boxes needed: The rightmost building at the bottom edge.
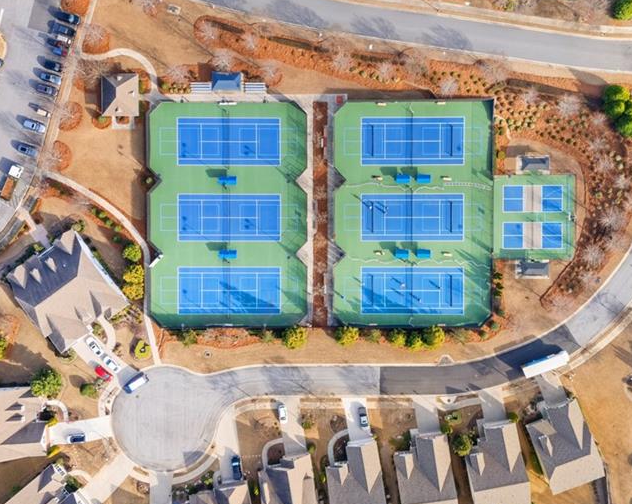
[524,398,594,495]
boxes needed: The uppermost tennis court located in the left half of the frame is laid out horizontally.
[149,102,306,179]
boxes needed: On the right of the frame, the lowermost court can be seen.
[334,255,493,326]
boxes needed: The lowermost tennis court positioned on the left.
[149,255,306,327]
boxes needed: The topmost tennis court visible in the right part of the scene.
[334,99,493,179]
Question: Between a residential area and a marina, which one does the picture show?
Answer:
residential area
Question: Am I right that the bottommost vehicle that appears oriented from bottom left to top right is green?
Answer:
No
